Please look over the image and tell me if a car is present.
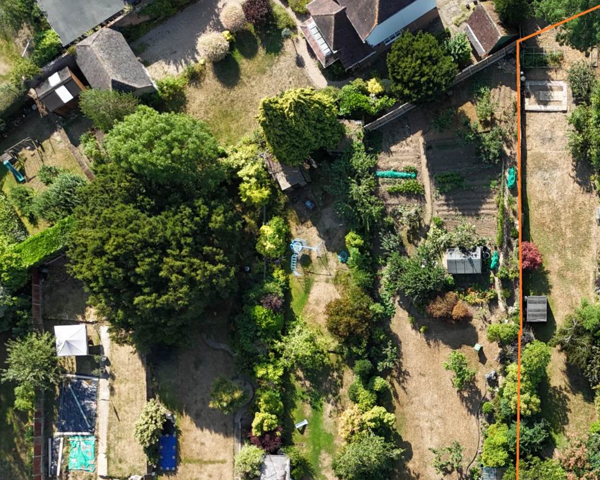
No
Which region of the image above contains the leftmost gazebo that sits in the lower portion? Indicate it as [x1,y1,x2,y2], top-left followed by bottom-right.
[54,325,101,357]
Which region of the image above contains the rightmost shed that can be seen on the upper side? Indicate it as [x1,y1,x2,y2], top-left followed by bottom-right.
[465,2,517,62]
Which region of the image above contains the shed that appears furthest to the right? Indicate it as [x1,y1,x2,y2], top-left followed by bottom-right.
[528,297,547,323]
